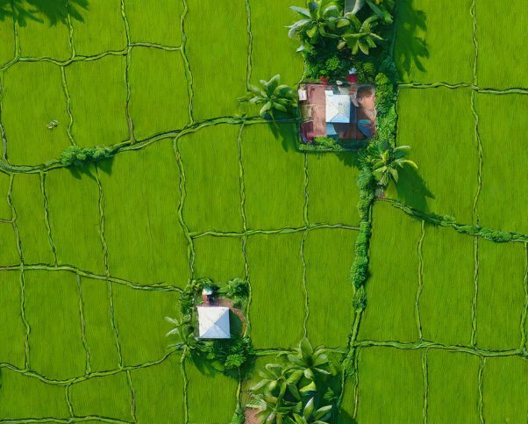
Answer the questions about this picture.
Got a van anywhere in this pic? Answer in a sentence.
No, the scene contains no van.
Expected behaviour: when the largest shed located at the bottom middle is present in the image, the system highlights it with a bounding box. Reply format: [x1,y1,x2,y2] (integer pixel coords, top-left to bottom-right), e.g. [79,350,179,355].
[197,307,231,339]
